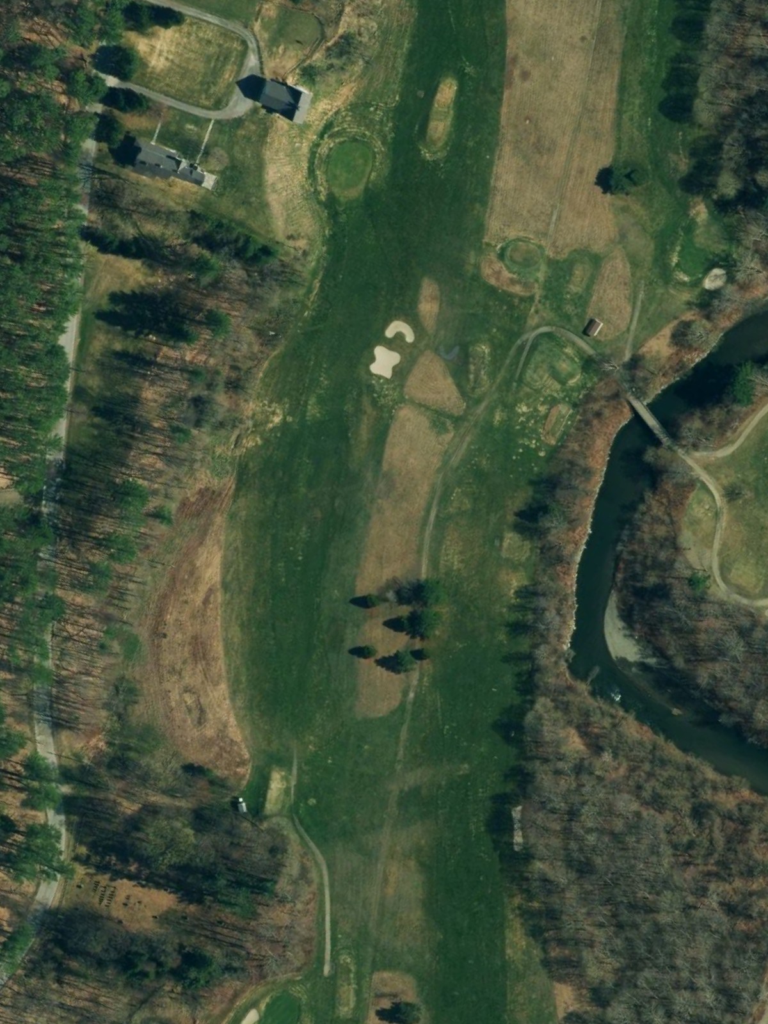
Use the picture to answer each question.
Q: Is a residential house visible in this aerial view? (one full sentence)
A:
Yes, a residential house can be made out from above.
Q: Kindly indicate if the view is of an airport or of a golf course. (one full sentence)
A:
The area seen from above is a golf course.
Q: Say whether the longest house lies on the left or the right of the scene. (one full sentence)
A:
The longest house appears in the left half of the scene.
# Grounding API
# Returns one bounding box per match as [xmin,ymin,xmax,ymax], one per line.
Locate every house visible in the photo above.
[258,78,315,126]
[135,140,217,190]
